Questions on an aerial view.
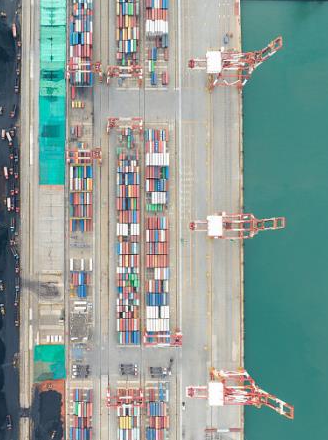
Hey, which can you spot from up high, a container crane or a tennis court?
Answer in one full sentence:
Looking from above, you can make out a container crane.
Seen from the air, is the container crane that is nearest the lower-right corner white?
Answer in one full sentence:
Yes, the container crane that is nearest the lower-right corner appears white.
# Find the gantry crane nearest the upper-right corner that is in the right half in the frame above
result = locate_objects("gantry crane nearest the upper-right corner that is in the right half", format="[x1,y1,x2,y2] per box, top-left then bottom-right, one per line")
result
[187,34,283,96]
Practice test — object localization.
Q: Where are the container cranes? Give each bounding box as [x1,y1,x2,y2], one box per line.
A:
[144,330,187,345]
[188,214,286,240]
[107,66,145,85]
[107,118,145,133]
[187,34,283,96]
[65,63,102,81]
[188,365,293,419]
[107,389,146,407]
